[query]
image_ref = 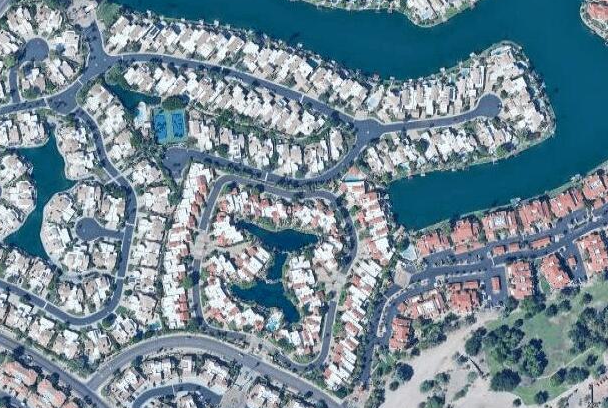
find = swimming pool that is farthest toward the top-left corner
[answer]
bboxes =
[133,102,146,129]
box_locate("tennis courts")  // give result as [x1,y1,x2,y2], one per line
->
[170,108,185,143]
[154,108,170,143]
